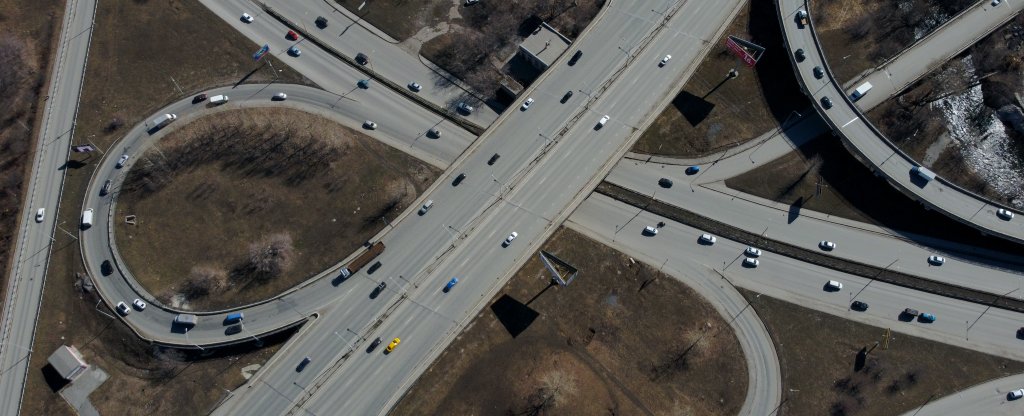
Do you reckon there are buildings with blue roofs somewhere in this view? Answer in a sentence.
No, the picture doesn't show any building with a blue roof.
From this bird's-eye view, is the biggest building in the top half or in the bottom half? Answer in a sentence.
Seen from above, the biggest building lies in the top half of the view.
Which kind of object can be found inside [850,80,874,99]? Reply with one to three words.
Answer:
vehicle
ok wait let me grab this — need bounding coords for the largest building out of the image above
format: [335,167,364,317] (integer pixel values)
[519,20,572,75]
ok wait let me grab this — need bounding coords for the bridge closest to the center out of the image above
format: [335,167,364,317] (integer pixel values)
[208,0,754,416]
